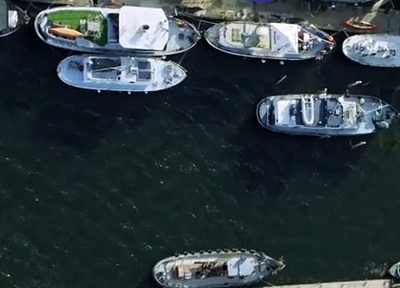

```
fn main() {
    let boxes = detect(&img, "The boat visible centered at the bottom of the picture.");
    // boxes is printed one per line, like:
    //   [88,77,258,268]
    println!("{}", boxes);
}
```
[153,248,287,288]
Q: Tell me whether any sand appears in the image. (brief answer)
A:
No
